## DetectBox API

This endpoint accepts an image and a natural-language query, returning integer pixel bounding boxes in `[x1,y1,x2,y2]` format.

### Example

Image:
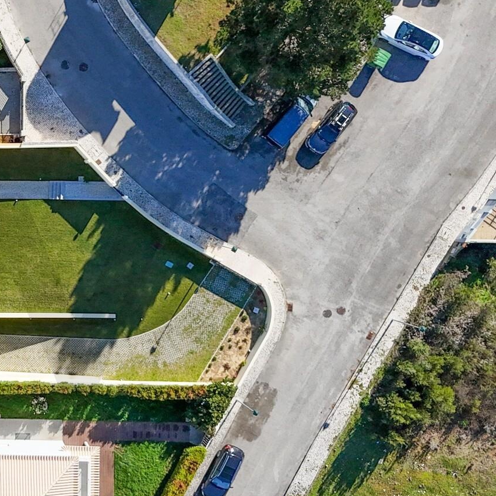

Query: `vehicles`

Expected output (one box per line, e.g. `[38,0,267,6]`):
[306,99,355,156]
[390,20,440,58]
[260,101,311,153]
[201,444,243,496]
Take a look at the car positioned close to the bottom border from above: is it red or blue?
blue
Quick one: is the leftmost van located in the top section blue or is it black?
blue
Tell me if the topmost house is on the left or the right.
right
